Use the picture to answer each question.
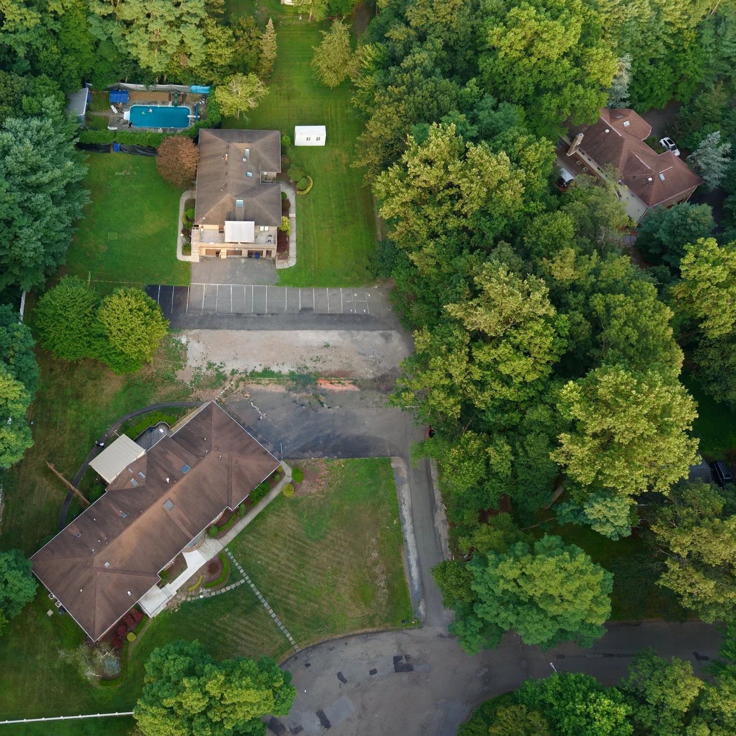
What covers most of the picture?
trees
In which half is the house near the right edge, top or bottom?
top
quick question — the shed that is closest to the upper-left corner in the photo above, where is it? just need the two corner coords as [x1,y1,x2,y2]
[69,87,88,125]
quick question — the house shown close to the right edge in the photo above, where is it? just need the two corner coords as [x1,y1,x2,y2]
[556,108,705,217]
